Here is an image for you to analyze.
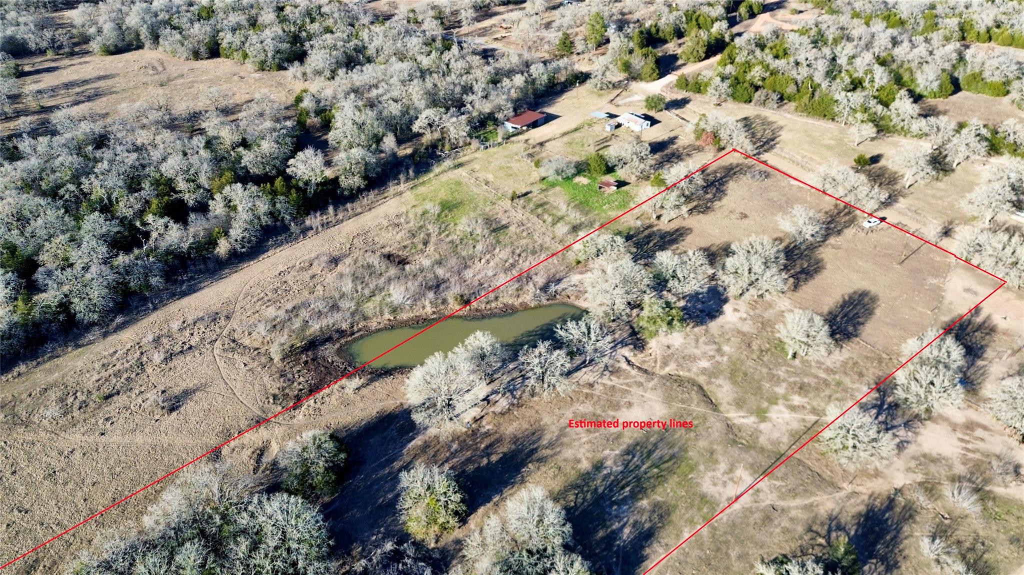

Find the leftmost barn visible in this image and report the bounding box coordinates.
[503,112,546,132]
